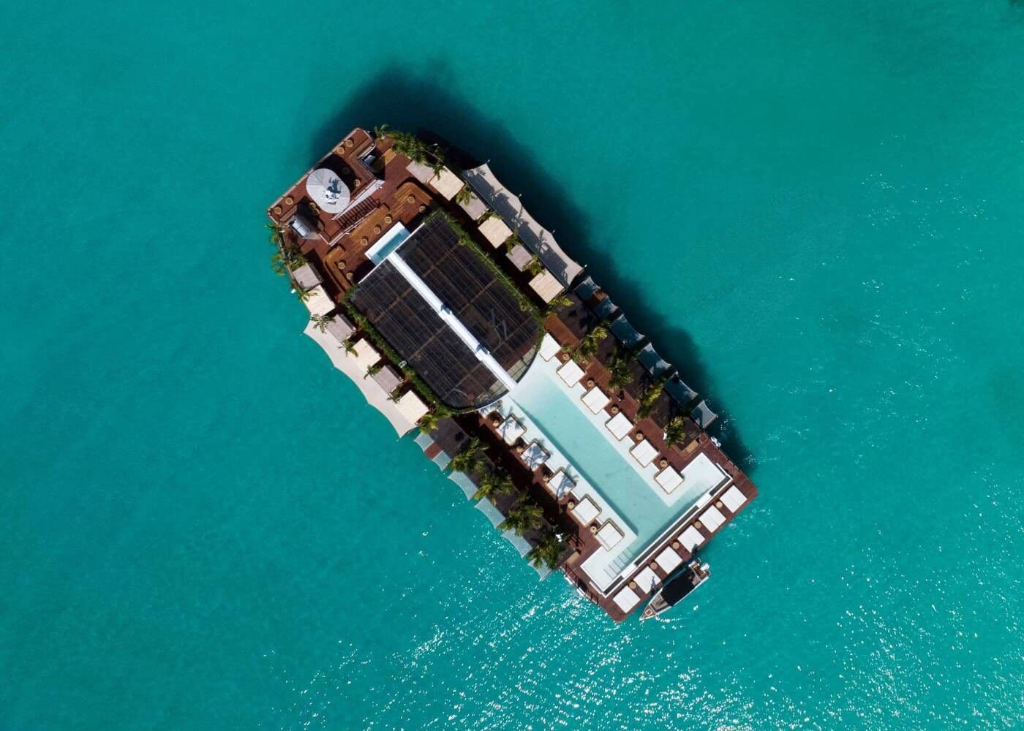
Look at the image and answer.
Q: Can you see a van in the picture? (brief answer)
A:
No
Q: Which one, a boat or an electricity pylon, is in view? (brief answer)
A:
boat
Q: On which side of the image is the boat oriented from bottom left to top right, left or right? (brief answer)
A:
right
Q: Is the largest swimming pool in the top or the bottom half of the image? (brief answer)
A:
bottom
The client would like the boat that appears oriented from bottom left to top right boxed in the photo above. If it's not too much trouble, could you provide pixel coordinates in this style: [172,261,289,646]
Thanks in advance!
[640,559,712,623]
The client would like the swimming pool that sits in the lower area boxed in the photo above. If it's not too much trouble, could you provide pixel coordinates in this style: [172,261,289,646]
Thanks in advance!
[492,354,732,597]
